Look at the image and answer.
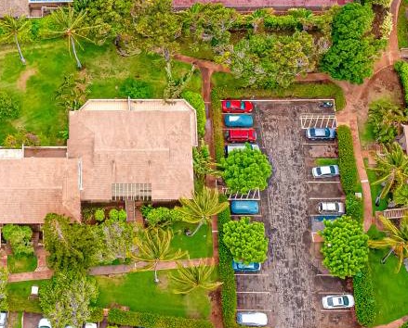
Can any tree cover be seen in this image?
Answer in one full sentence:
Yes, tree cover can be seen from above here.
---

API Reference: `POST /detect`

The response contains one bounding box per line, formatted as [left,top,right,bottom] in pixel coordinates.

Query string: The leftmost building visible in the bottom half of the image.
[0,146,82,250]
